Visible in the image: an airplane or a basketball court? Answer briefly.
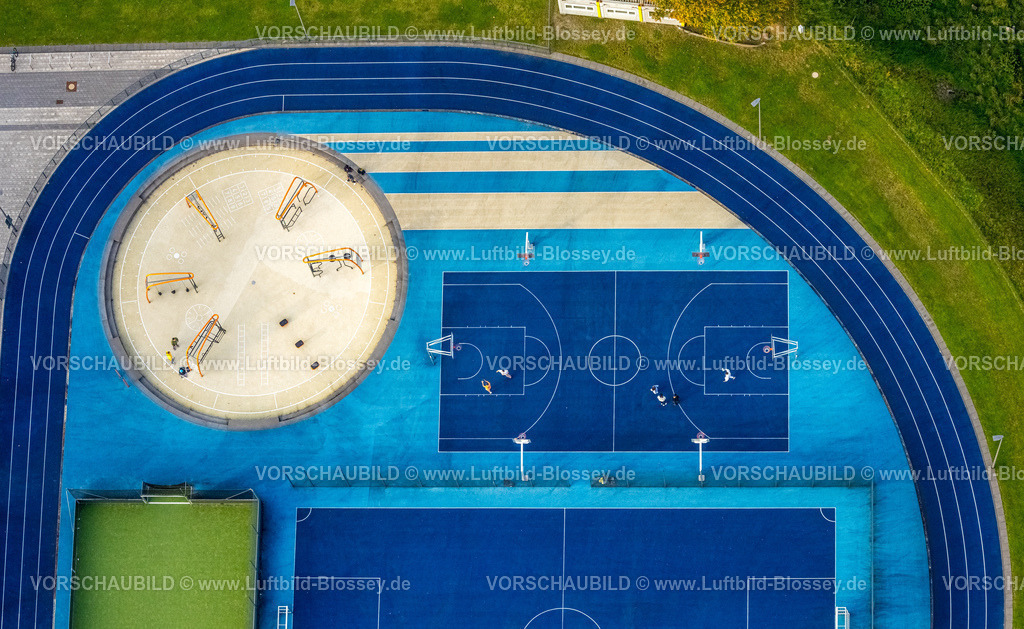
basketball court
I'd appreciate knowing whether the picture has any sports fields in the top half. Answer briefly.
No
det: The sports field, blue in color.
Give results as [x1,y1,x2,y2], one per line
[292,507,837,629]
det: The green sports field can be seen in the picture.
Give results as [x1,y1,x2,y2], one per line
[73,503,258,629]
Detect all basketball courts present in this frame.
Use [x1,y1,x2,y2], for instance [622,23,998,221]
[439,270,790,452]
